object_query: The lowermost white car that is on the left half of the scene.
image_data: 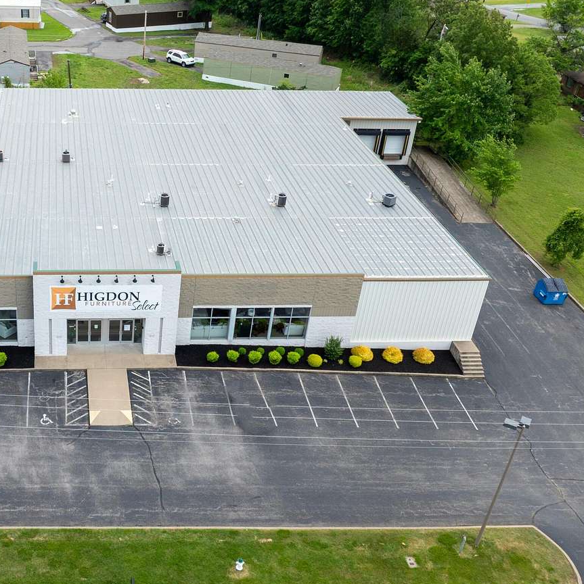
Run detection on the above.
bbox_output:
[163,46,198,64]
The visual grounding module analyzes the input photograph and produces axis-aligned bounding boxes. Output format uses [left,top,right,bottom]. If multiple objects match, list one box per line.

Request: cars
[99,8,109,21]
[163,46,198,64]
